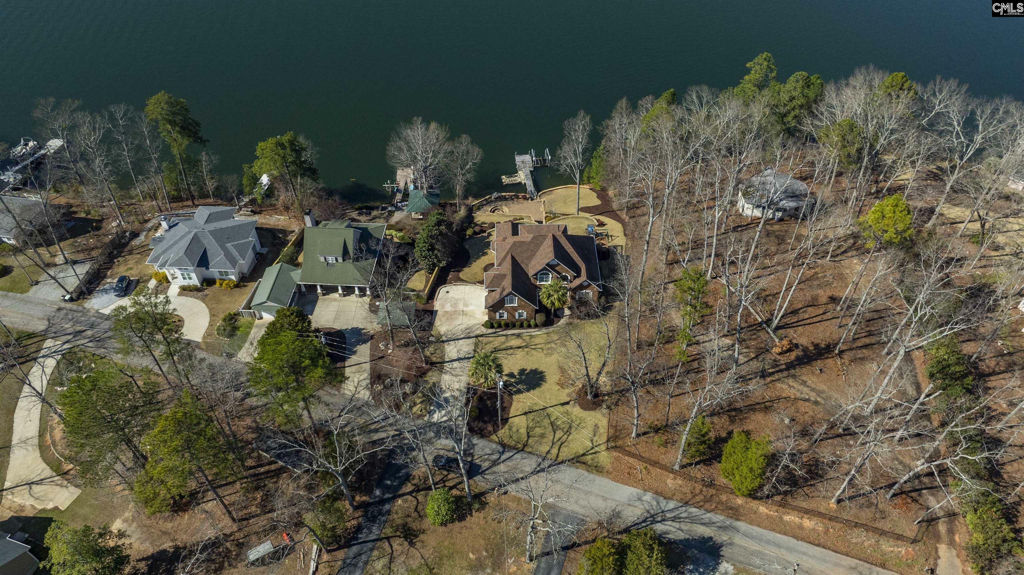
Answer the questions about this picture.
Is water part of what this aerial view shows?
Yes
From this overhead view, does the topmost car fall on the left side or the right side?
left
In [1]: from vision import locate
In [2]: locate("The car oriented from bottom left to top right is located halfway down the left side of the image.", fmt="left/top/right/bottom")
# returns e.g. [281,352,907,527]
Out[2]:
[110,272,139,295]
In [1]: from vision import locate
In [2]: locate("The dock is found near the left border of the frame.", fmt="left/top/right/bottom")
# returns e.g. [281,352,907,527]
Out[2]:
[1,139,72,183]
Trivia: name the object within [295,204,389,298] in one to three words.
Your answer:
building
